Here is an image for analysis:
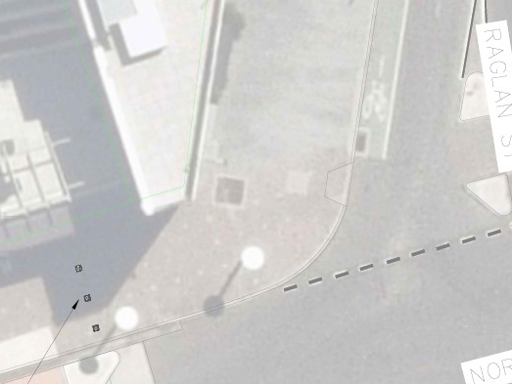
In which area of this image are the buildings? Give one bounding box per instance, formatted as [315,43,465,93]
[0,0,85,248]
[101,0,245,218]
